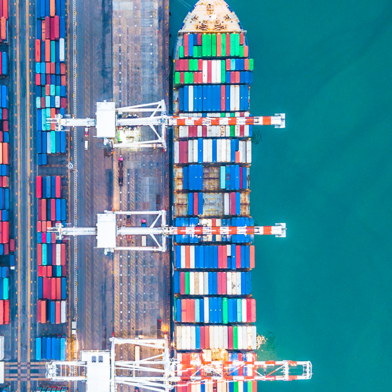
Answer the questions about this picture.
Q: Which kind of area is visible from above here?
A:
port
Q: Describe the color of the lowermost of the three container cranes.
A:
white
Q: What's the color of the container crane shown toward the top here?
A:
white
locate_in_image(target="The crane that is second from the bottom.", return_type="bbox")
[46,207,285,254]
